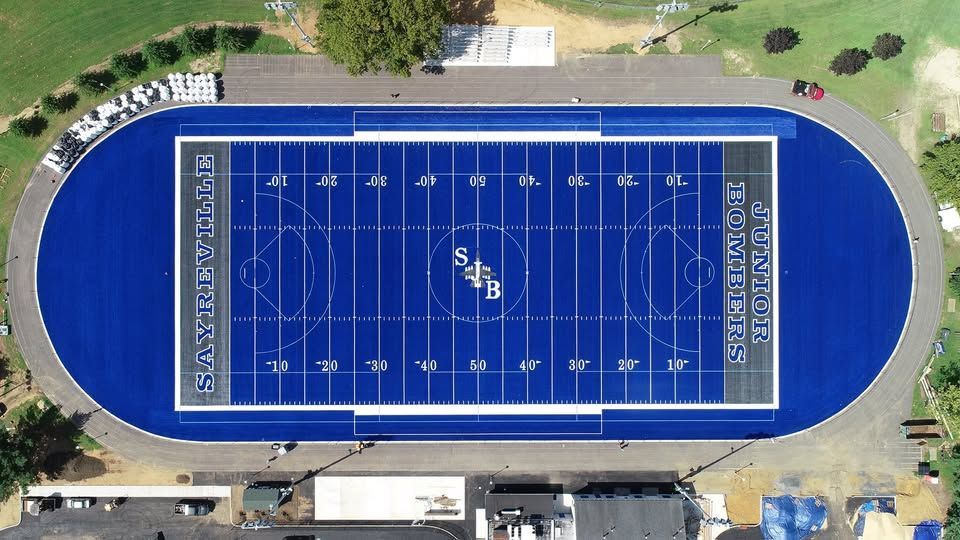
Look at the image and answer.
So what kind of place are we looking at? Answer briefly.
sports ground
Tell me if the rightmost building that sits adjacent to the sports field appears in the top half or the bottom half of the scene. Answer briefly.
bottom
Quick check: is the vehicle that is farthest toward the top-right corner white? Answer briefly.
No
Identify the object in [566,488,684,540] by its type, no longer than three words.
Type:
building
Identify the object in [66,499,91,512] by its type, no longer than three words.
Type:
vehicle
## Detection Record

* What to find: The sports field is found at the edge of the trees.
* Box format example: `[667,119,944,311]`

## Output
[175,112,779,433]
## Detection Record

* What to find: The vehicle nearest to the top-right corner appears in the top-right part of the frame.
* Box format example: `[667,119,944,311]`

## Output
[791,79,828,98]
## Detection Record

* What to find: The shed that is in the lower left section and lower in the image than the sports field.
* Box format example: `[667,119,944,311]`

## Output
[242,484,282,512]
